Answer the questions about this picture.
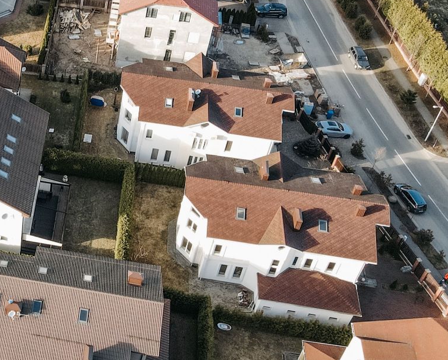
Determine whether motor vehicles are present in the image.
Yes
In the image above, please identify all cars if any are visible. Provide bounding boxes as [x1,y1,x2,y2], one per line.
[256,1,290,18]
[315,119,358,138]
[346,42,374,67]
[394,178,435,213]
